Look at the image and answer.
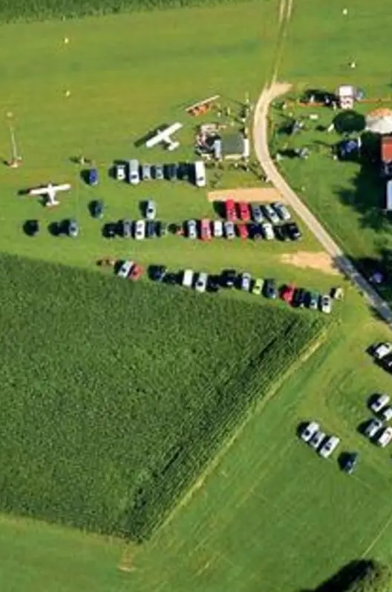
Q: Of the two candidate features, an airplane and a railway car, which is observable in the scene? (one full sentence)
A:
Looking from above, you can make out an airplane.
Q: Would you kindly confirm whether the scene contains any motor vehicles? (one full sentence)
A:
Yes, the photo shows a motor vehicle.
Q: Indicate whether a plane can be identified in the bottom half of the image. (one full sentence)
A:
No, there is no plane in the bottom half of the image.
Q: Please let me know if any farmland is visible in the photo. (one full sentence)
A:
Yes, farmland shows up in the scene.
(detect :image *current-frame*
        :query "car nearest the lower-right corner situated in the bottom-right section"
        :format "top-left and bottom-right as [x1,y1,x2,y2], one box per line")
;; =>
[341,451,357,474]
